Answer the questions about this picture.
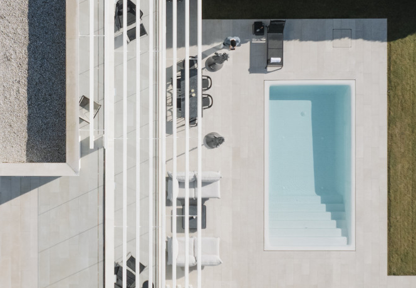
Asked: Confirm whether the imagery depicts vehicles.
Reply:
No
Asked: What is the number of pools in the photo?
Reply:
one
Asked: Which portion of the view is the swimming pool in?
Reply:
right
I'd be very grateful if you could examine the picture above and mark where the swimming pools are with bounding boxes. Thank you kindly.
[264,80,356,250]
